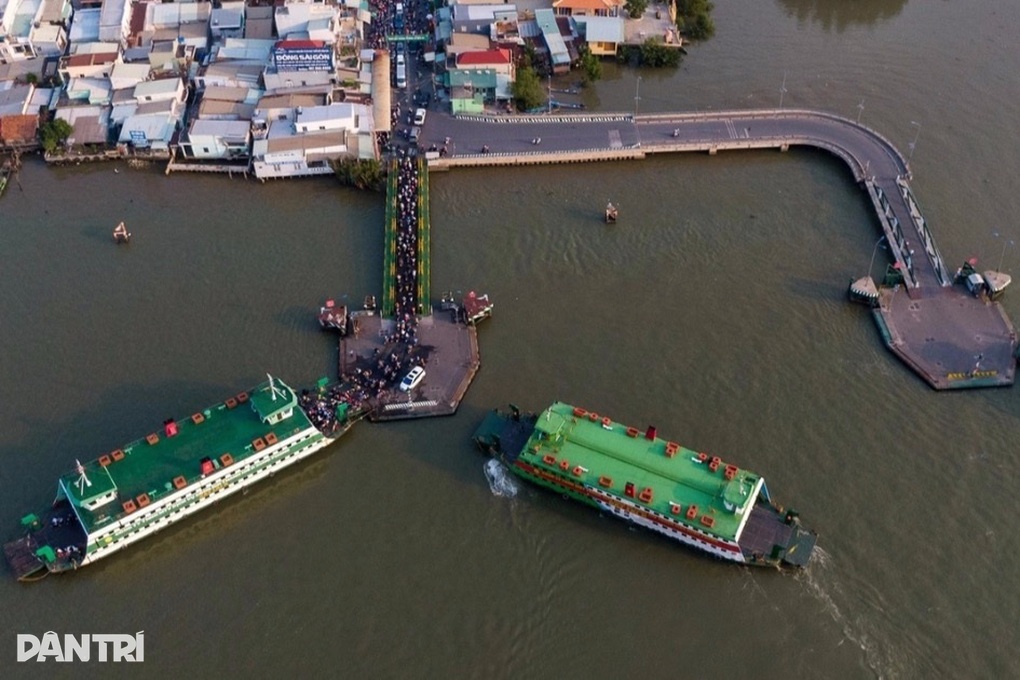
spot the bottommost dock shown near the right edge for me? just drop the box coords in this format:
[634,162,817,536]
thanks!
[871,282,1019,395]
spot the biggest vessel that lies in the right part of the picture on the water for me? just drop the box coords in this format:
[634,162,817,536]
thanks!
[468,397,820,574]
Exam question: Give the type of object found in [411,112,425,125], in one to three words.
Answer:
vehicle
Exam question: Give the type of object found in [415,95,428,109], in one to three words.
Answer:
vehicle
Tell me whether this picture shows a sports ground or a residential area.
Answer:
residential area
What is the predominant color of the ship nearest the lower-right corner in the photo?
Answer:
green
